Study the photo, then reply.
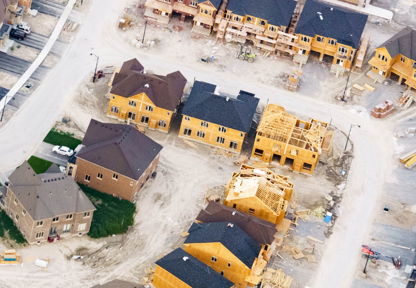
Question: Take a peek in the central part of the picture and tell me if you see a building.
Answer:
Yes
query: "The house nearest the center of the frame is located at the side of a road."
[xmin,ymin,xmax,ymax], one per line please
[180,77,260,153]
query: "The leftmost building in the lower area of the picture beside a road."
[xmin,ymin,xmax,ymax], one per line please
[4,160,95,242]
